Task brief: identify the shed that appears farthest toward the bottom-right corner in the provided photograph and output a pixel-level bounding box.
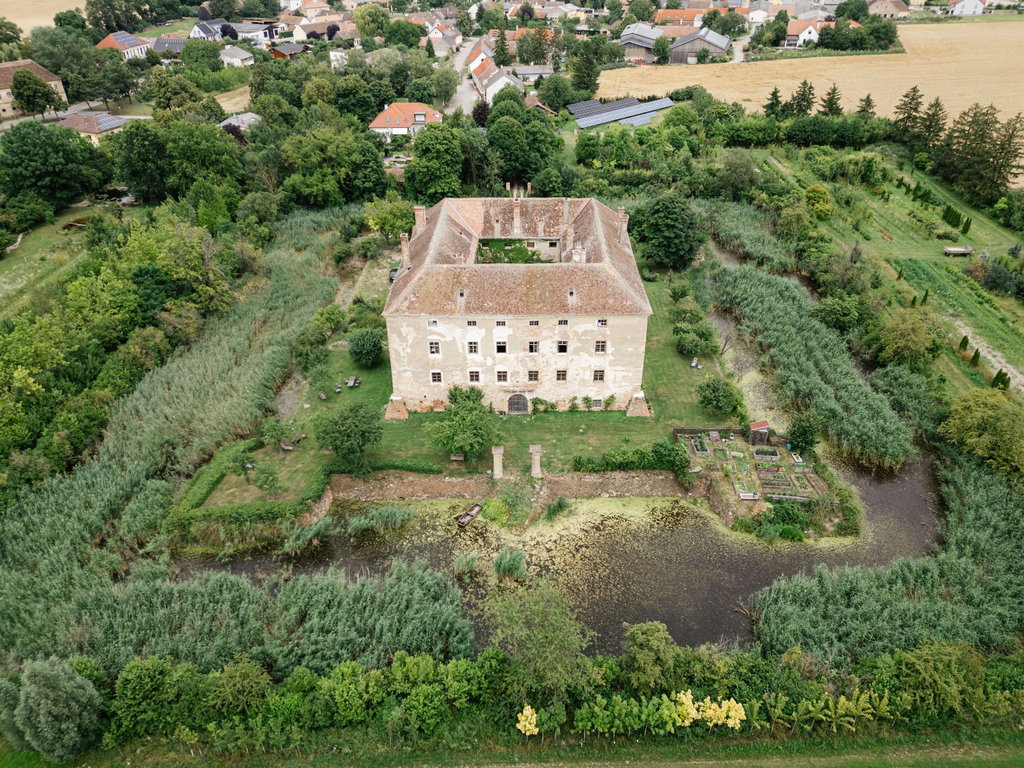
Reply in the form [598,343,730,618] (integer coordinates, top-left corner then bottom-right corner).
[750,419,774,447]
